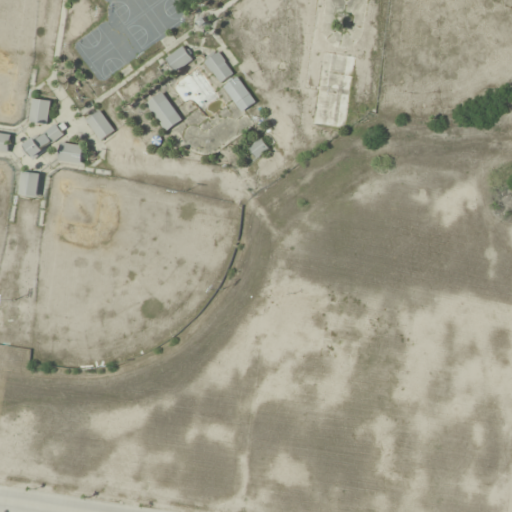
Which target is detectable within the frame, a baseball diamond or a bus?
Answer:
baseball diamond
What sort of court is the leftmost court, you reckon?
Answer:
basketball court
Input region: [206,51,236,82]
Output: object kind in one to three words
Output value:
building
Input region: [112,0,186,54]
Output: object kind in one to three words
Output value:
basketball court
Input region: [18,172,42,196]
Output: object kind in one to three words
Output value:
building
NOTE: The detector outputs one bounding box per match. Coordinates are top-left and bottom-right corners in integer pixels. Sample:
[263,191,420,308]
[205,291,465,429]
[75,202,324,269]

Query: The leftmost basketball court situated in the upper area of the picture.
[76,21,132,80]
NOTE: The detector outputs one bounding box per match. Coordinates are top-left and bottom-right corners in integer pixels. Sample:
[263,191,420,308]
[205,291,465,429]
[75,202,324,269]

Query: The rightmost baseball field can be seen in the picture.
[34,170,243,366]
